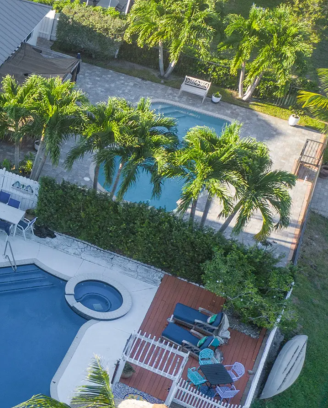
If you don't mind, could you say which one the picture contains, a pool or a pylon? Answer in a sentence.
This aerial view contains a pool.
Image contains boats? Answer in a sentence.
Yes, a boat appears in the view.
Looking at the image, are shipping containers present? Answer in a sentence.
No, I can't see a single shipping container in this photo.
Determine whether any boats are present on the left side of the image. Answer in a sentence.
No, I see no boat on the left side of the image.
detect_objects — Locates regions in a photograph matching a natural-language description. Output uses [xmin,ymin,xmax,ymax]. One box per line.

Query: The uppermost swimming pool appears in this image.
[93,96,245,215]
